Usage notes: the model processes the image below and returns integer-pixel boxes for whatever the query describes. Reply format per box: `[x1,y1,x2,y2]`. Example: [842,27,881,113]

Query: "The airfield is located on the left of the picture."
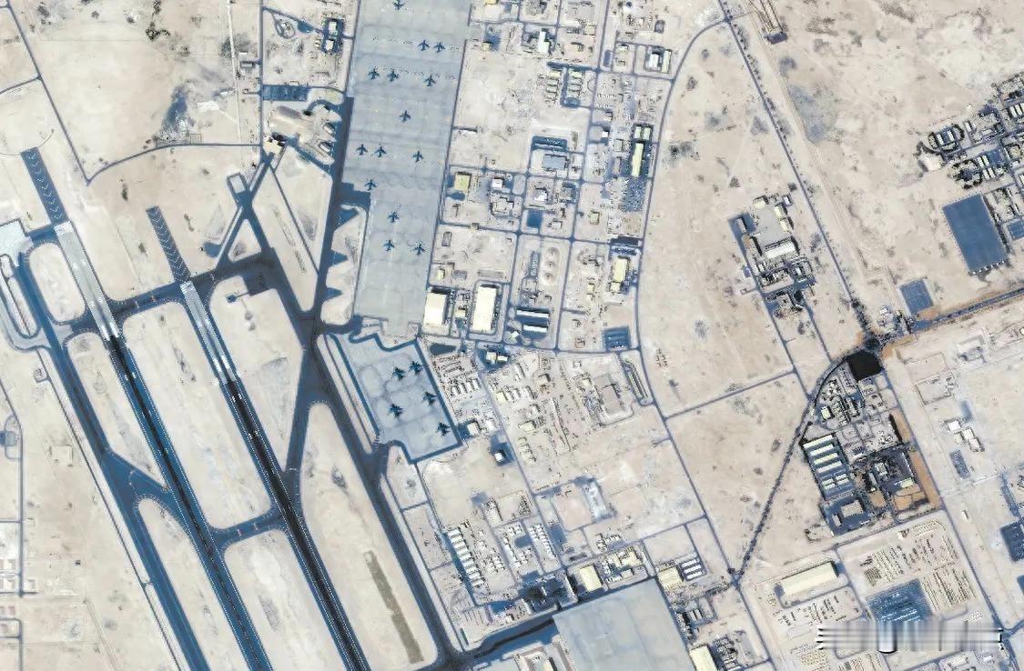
[0,0,698,671]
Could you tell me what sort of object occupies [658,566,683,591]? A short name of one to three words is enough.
hangar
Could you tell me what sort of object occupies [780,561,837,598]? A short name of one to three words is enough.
building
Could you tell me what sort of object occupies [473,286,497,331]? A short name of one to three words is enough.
hangar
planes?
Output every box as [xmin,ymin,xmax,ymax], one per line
[387,212,399,224]
[423,391,437,406]
[368,67,379,80]
[356,143,368,156]
[364,180,376,192]
[383,239,394,252]
[413,244,425,255]
[392,366,406,381]
[386,70,399,82]
[409,361,423,376]
[399,111,411,122]
[412,151,424,162]
[433,41,445,53]
[391,0,403,10]
[437,423,450,437]
[423,75,435,87]
[389,404,403,419]
[418,39,430,51]
[374,145,386,158]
